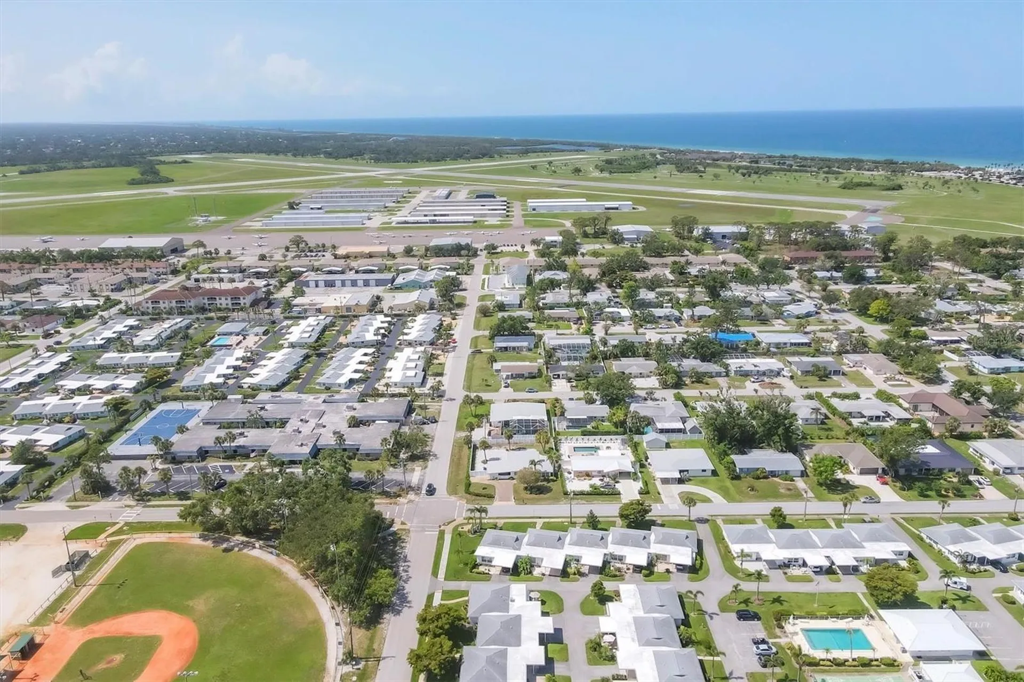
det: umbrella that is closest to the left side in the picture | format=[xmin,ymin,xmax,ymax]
[526,588,543,600]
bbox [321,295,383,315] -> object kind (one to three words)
building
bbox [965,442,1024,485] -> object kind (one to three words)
house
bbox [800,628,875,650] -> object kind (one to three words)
swimming pool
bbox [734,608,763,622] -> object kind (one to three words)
car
